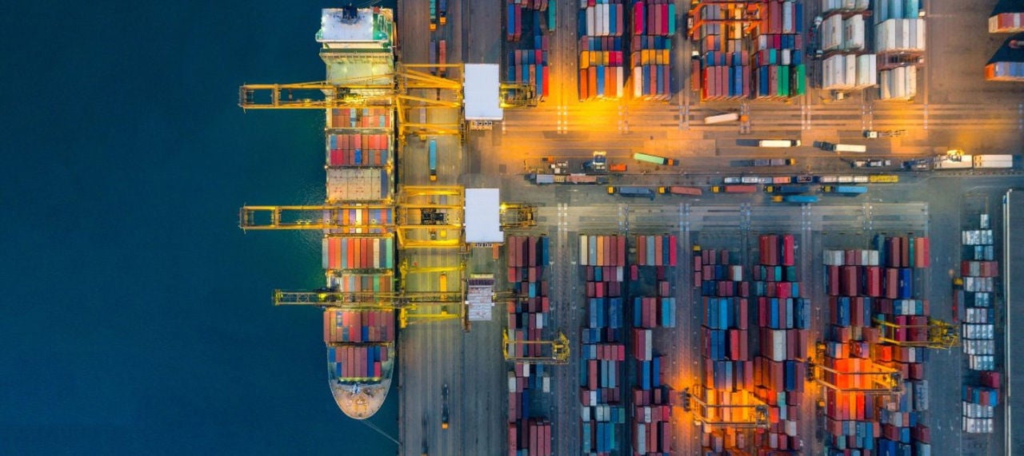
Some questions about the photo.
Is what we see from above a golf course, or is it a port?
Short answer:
port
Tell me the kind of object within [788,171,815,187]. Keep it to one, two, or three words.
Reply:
work vehicle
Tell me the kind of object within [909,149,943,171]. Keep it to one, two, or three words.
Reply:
work vehicle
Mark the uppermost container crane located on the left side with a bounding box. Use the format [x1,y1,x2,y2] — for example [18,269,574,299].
[239,63,536,149]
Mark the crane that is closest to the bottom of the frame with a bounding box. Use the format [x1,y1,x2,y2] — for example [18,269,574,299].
[689,390,774,429]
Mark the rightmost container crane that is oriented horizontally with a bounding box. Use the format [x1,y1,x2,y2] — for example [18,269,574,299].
[871,314,970,349]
